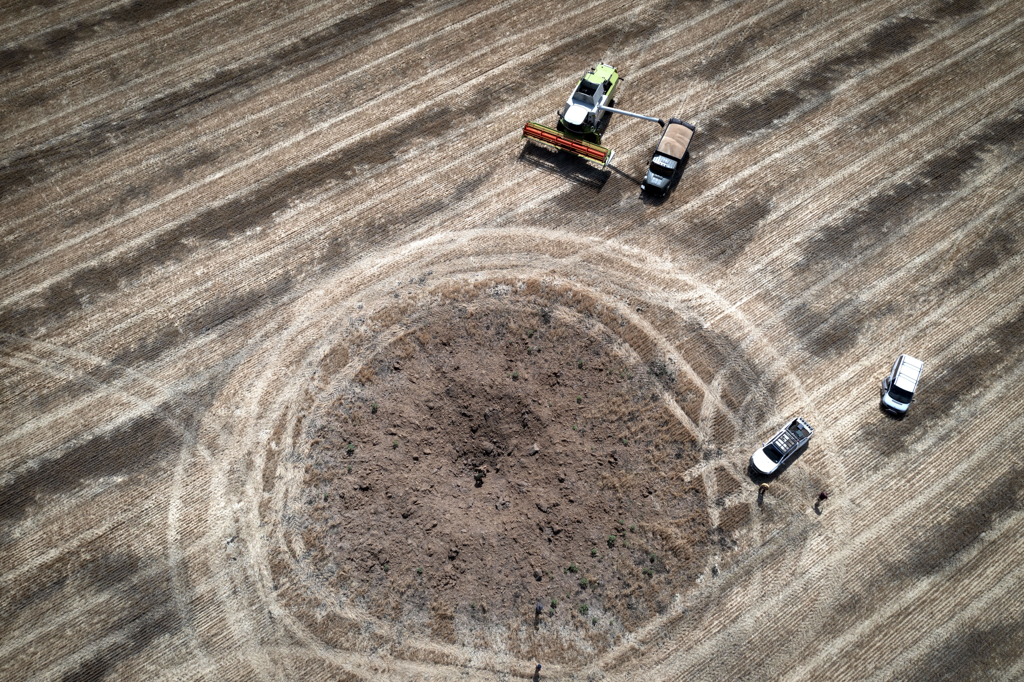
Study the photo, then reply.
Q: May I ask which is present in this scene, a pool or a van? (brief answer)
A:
van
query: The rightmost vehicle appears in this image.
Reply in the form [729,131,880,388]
[879,355,922,416]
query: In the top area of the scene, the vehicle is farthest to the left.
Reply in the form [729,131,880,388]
[518,63,665,175]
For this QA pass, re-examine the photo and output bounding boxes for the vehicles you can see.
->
[640,118,696,200]
[751,416,815,477]
[879,355,922,416]
[518,63,665,175]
